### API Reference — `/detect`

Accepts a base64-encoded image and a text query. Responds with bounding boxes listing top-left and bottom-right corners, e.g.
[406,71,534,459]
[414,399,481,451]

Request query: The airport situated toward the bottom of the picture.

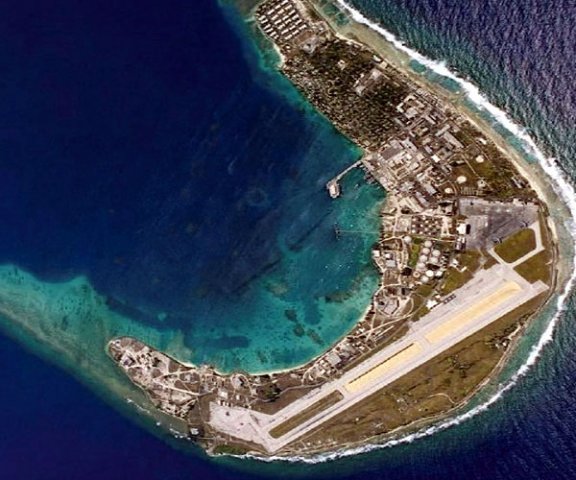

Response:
[210,198,549,452]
